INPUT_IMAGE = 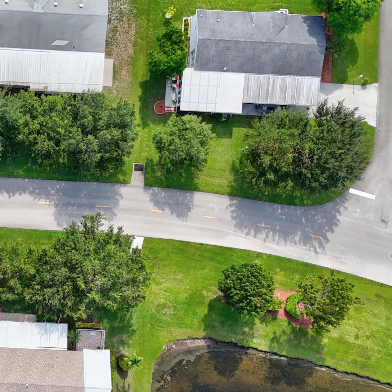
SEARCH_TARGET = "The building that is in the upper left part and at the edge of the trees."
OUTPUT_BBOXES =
[0,0,110,93]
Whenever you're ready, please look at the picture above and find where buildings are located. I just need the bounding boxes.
[179,9,326,114]
[0,0,110,93]
[0,320,113,392]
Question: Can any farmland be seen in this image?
No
